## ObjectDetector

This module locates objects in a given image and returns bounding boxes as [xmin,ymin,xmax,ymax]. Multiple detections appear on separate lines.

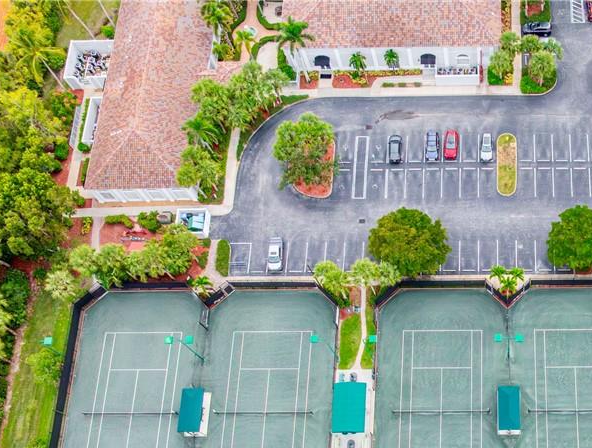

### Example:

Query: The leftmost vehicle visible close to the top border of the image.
[521,20,552,37]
